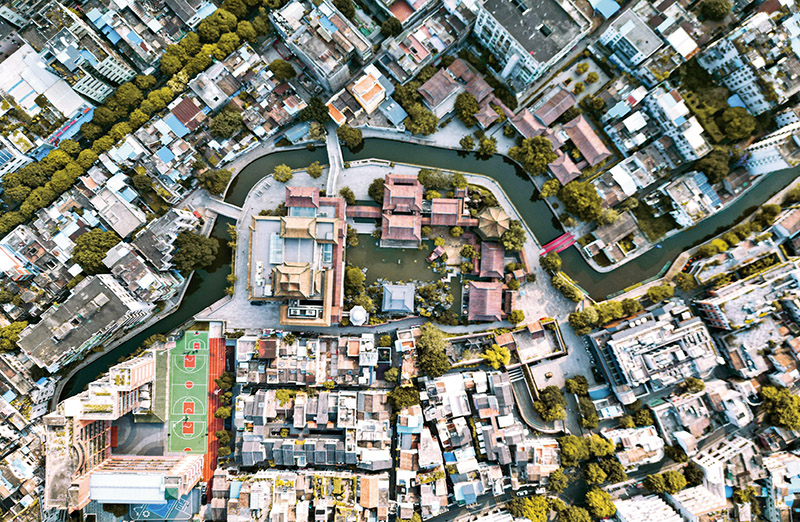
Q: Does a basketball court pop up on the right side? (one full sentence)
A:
No, no basketball court appears on the right side.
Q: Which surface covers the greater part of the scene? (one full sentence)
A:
Most of the picture is covered by buildings.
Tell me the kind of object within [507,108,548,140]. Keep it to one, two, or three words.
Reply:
building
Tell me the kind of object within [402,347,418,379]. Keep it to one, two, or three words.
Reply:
shed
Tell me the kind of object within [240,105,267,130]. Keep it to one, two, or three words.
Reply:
house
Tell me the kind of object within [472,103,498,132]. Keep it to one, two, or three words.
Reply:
building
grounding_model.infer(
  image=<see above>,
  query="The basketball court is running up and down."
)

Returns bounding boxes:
[168,331,209,457]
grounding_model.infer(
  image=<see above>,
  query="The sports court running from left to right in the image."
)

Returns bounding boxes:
[112,500,194,522]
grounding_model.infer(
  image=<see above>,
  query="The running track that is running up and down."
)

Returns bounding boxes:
[209,322,225,496]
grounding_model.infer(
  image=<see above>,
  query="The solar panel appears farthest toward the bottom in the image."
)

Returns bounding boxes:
[694,173,722,206]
